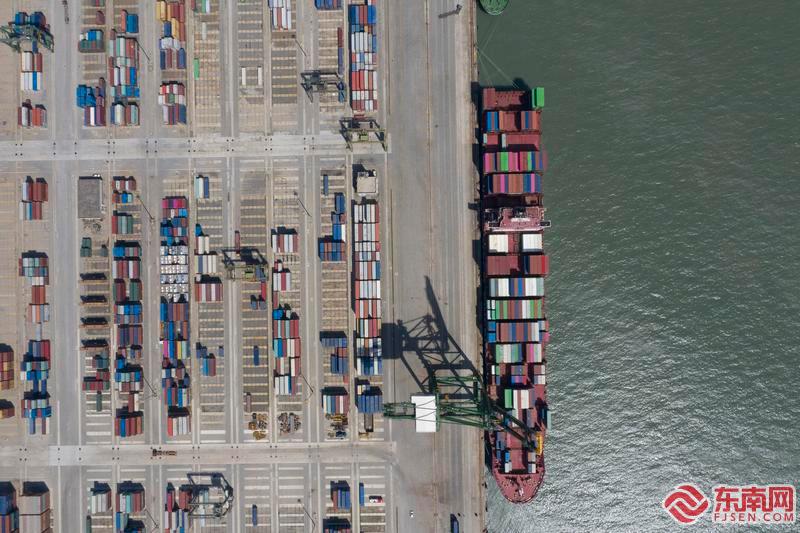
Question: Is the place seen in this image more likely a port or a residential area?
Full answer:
This image shows a port.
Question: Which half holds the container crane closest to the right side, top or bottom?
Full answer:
Seen from above, the container crane closest to the right side lies in the bottom half of the view.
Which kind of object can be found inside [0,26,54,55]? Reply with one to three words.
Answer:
container crane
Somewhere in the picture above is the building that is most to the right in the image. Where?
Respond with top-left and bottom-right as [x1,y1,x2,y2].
[357,172,377,199]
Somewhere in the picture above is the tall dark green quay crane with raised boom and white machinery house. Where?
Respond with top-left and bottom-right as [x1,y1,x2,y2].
[384,366,536,456]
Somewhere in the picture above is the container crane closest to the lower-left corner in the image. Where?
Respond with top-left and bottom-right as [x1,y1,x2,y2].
[188,489,234,518]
